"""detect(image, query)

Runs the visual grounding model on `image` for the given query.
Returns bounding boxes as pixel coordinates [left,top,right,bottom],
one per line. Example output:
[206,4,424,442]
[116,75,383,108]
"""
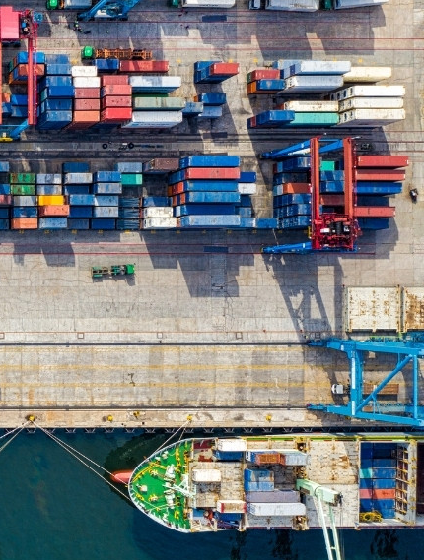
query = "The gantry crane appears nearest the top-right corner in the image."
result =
[256,136,356,253]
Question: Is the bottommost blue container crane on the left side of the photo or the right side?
right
